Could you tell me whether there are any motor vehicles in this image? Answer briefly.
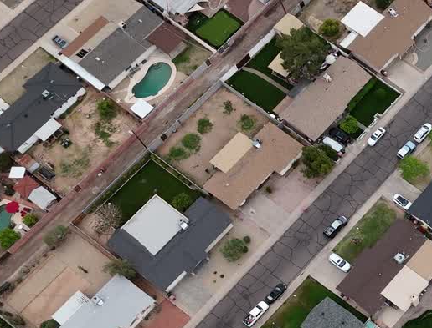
Yes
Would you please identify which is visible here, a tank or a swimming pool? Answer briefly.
swimming pool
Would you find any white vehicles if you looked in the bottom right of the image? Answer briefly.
Yes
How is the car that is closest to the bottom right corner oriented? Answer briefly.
at an angle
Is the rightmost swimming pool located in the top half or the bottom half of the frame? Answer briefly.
top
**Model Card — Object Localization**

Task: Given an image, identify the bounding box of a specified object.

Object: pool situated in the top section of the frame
[128,57,176,100]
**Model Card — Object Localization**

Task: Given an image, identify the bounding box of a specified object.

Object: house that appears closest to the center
[204,124,301,211]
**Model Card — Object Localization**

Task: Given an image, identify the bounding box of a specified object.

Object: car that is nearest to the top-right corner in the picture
[413,123,431,142]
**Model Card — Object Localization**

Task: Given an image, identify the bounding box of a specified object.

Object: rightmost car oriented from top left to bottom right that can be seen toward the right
[392,192,411,211]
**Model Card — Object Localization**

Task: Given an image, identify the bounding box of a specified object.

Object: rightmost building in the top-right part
[340,0,432,73]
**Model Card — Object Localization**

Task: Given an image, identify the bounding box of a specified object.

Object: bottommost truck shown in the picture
[243,302,269,327]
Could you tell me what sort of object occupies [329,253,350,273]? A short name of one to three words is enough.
car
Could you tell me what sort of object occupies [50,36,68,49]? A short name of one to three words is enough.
vehicle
